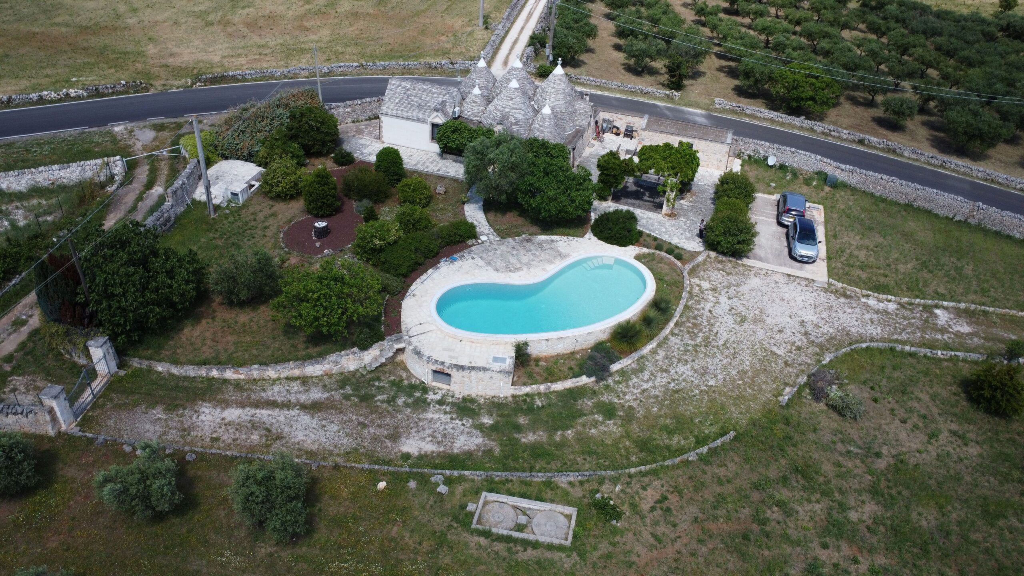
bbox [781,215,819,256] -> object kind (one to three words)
car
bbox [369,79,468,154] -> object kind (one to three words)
house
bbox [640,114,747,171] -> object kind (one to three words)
shed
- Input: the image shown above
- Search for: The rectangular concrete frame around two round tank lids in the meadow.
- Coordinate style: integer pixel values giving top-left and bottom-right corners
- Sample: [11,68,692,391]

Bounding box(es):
[472,490,579,551]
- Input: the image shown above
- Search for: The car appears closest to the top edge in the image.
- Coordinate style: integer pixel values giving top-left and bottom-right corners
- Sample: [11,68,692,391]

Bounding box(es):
[773,193,806,222]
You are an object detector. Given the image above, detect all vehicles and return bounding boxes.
[781,215,819,256]
[773,193,806,222]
